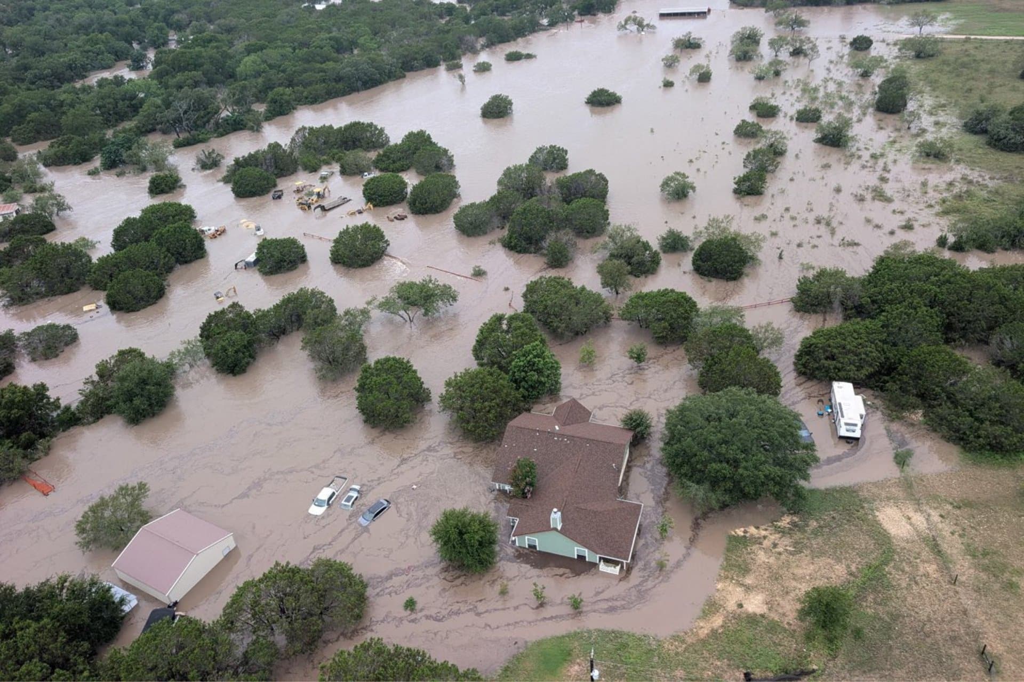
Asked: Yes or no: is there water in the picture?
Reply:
Yes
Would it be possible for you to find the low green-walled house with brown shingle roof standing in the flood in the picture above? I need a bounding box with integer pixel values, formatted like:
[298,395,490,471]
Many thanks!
[491,398,643,575]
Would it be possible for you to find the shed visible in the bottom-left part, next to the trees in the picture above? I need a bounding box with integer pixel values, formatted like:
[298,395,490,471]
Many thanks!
[111,508,234,602]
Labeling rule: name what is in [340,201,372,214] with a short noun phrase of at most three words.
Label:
vehicle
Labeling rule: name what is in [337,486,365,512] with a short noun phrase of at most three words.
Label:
car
